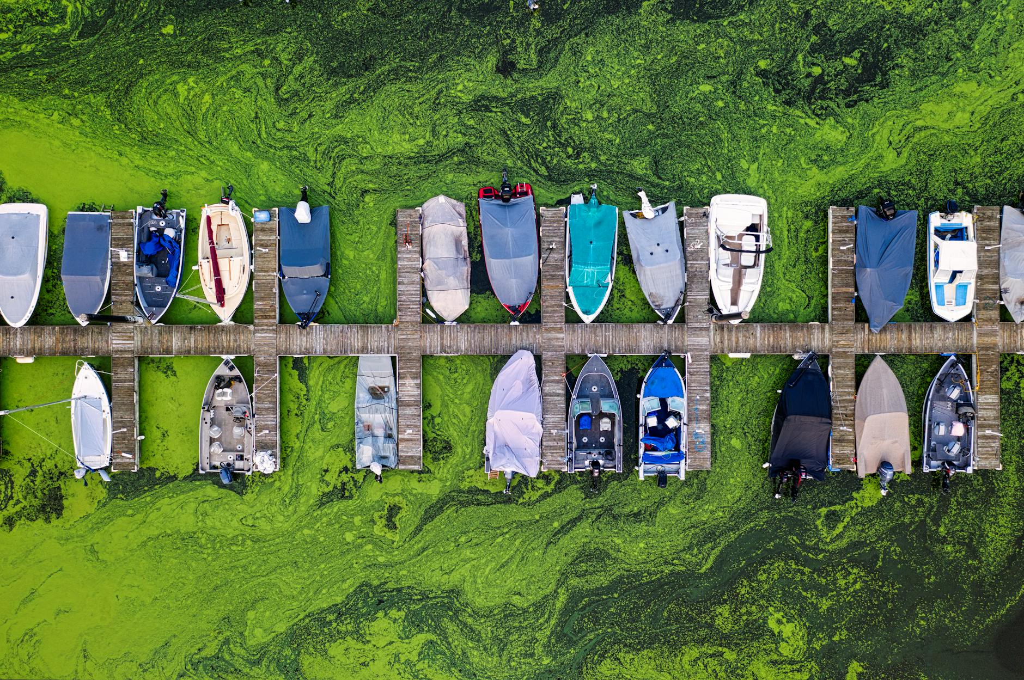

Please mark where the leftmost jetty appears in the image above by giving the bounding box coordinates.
[0,324,114,357]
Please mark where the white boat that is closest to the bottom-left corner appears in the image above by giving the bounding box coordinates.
[0,360,115,490]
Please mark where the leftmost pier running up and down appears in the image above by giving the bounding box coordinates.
[110,208,143,473]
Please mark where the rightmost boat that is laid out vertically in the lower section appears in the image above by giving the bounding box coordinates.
[913,355,974,497]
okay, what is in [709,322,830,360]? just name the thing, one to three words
pier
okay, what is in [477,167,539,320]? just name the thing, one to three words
boat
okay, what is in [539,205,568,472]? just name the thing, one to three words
pier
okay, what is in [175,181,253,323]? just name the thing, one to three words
boat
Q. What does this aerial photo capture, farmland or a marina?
marina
